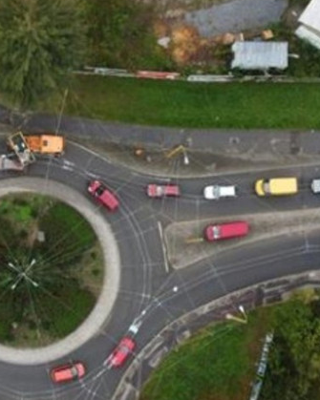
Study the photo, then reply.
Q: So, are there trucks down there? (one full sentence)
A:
Yes, looking at the shot, I can spot a truck.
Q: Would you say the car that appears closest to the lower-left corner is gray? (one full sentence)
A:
No, the car that appears closest to the lower-left corner is actually red.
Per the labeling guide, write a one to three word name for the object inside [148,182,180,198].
car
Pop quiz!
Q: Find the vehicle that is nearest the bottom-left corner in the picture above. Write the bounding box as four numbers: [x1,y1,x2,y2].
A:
[50,362,86,382]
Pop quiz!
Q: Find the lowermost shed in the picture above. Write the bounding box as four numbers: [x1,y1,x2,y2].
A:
[226,41,288,74]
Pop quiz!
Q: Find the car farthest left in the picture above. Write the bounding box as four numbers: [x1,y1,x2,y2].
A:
[0,157,26,172]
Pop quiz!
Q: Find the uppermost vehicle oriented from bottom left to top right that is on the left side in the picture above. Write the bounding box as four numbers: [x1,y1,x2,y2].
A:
[108,335,135,369]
